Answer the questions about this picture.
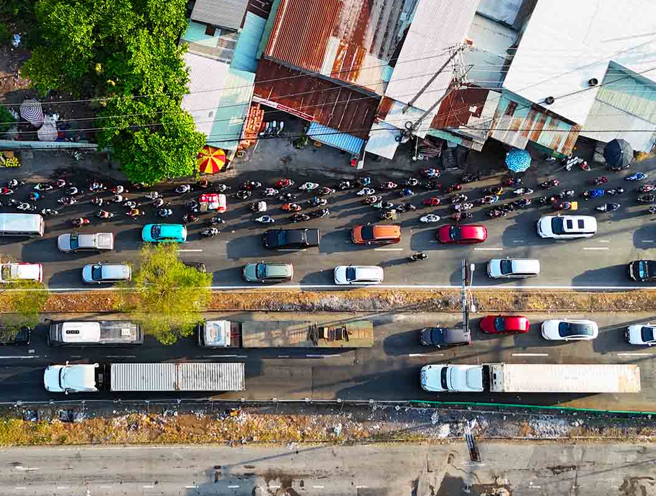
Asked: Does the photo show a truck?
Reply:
Yes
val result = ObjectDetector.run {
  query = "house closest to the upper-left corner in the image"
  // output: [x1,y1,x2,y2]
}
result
[180,0,268,162]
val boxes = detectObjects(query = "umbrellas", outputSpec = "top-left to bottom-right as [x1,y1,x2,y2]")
[198,148,226,173]
[36,121,57,141]
[20,100,43,123]
[601,143,633,169]
[504,149,530,172]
